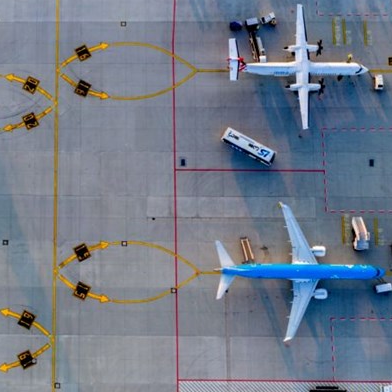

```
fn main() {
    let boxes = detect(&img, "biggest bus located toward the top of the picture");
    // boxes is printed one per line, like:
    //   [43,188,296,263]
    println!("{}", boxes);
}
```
[221,127,276,164]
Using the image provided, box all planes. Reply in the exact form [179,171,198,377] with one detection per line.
[214,201,384,341]
[227,7,368,130]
